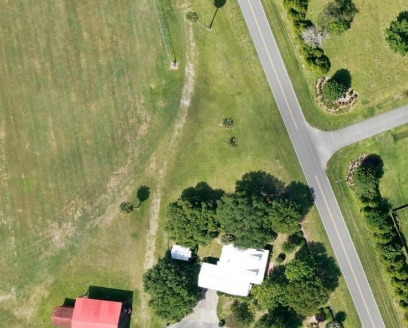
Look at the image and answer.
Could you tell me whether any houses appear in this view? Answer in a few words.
Yes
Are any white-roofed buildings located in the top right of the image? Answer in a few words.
No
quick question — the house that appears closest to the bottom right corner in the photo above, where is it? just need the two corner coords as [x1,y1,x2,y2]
[200,245,270,297]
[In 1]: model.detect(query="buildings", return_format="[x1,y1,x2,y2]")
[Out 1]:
[71,297,128,328]
[200,245,270,297]
[171,245,193,261]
